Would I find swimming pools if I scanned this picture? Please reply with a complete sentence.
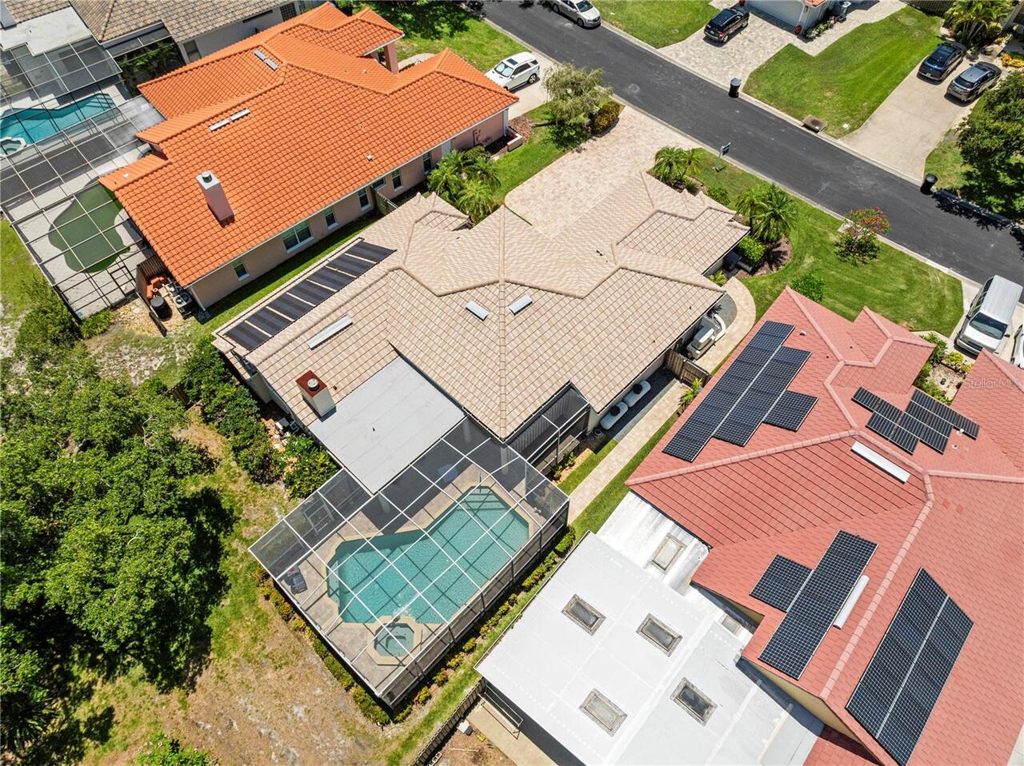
Yes, looking at the shot, I can spot a swimming pool.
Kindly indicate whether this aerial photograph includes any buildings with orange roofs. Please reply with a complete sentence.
Yes, the image includes a building with an orange roof.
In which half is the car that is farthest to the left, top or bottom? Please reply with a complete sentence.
Seen from above, the car that is farthest to the left lies in the top half of the view.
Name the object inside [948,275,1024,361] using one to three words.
van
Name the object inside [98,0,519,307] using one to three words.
house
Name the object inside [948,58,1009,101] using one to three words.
car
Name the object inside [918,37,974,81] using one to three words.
car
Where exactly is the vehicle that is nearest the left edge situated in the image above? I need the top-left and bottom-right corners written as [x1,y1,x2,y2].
[480,45,544,89]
